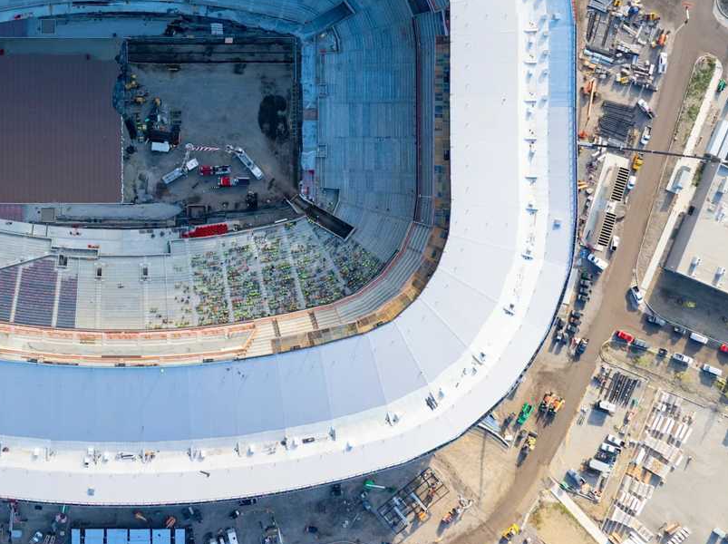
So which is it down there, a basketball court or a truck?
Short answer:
truck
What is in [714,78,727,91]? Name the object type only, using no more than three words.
vehicle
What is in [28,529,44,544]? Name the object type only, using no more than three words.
vehicle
